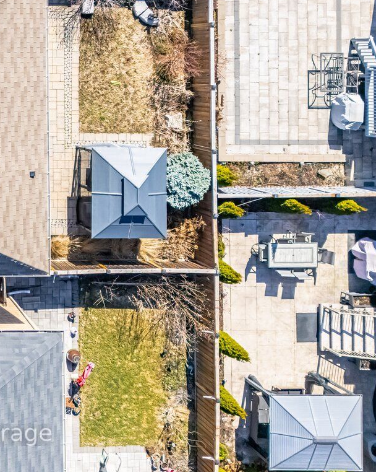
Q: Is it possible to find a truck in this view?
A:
No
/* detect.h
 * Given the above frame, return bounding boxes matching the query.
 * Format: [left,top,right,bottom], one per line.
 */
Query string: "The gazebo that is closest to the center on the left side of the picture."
[74,142,169,238]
